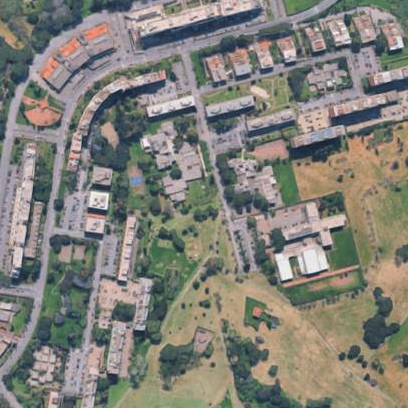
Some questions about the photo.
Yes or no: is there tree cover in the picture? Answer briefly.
Yes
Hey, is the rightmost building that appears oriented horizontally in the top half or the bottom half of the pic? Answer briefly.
top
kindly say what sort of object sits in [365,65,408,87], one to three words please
building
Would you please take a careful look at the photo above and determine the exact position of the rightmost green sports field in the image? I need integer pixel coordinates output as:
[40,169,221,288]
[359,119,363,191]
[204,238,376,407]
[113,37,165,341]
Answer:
[331,230,359,270]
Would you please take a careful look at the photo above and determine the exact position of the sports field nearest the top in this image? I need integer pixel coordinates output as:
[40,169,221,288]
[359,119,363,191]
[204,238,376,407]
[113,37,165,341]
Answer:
[273,161,300,207]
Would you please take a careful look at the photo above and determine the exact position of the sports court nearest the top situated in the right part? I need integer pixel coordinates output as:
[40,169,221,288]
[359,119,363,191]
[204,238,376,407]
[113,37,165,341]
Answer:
[255,141,288,162]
